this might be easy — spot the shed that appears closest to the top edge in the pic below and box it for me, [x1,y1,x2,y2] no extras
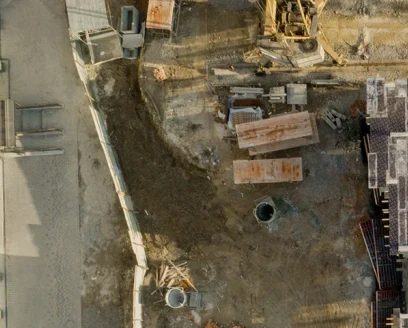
[69,0,124,41]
